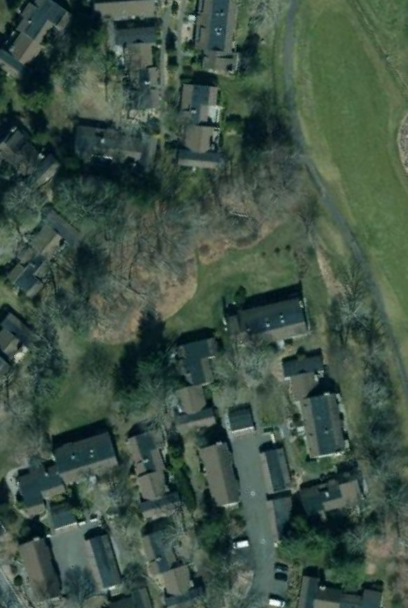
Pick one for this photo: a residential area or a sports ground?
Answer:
residential area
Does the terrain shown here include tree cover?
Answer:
Yes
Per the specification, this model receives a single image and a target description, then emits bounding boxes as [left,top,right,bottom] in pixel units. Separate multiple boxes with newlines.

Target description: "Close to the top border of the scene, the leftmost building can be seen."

[0,0,64,79]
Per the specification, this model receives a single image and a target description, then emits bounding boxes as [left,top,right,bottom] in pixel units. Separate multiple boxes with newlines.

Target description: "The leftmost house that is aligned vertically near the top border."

[114,26,159,112]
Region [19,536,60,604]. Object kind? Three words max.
house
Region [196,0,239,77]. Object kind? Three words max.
house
